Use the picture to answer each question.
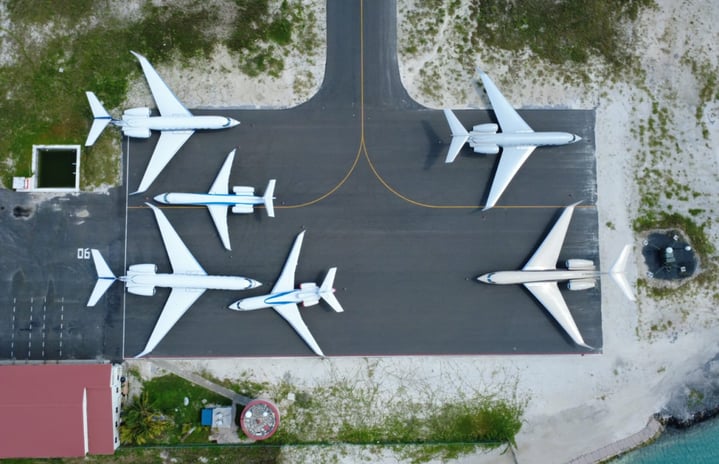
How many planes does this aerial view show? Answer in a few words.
6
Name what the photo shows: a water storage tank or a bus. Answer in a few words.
water storage tank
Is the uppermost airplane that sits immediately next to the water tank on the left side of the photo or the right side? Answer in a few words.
left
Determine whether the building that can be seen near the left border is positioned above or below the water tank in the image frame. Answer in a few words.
below it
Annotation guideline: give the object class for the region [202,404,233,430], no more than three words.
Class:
shed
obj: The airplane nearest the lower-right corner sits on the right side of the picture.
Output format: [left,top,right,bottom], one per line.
[477,202,633,348]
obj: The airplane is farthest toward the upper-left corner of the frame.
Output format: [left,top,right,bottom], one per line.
[84,48,239,194]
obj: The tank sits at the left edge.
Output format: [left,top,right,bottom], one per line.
[32,145,79,191]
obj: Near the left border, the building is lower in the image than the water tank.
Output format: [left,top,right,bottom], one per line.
[0,358,122,463]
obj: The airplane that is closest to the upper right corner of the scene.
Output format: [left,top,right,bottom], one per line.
[445,64,583,210]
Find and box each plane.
[228,231,344,358]
[88,203,263,358]
[477,202,633,348]
[84,48,239,194]
[154,147,276,249]
[445,64,583,210]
